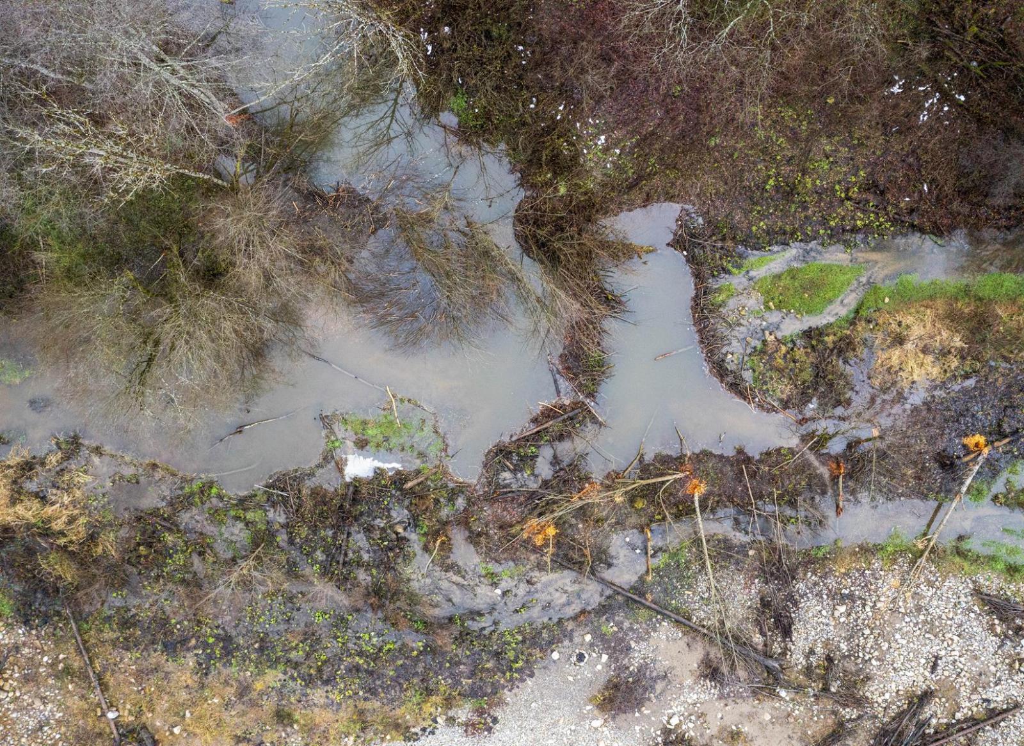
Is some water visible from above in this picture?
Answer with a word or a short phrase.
Yes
